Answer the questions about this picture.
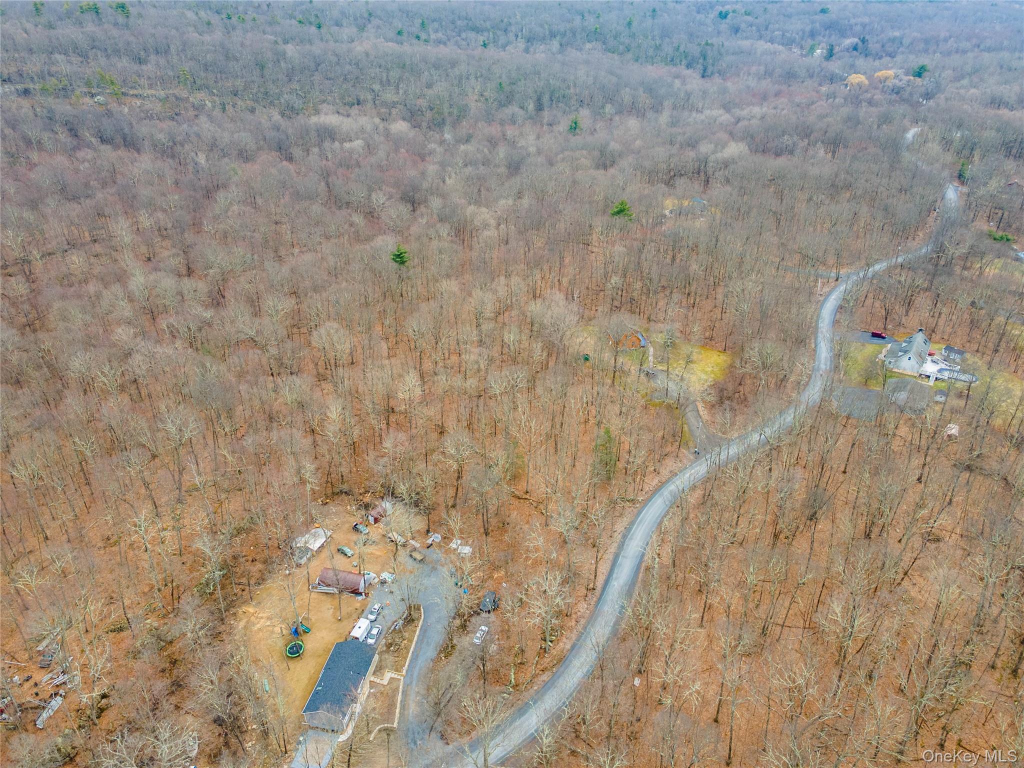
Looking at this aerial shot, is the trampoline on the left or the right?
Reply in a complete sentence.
It is on the left.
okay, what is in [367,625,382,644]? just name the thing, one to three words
car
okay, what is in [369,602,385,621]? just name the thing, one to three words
car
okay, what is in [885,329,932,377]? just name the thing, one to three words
house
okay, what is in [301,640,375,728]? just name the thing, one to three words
house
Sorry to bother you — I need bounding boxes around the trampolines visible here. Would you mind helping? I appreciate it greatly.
[283,639,305,659]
